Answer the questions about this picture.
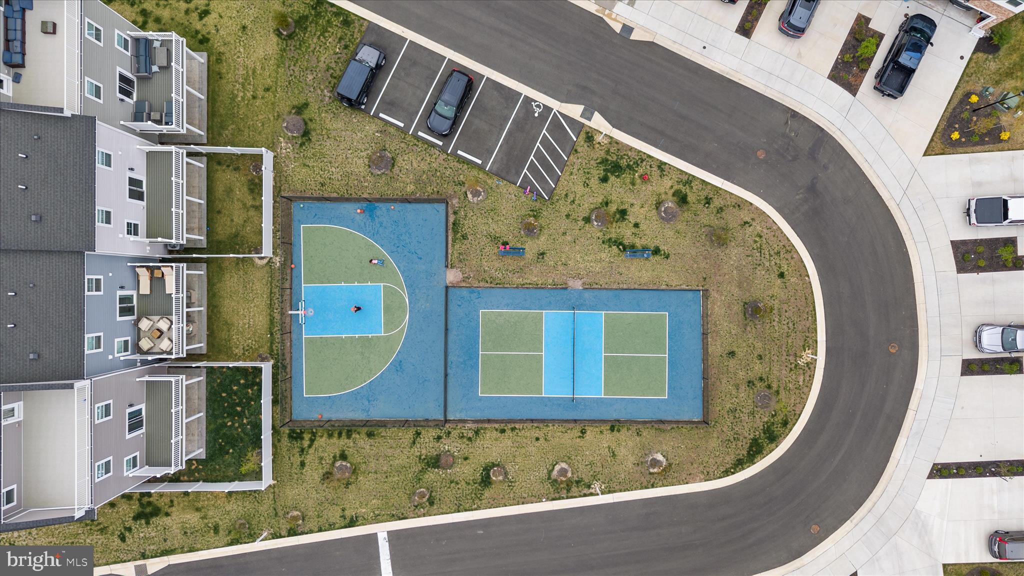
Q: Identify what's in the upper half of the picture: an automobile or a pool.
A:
automobile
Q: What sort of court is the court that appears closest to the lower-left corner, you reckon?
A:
basketball court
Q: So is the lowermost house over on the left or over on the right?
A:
left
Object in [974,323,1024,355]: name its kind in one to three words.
car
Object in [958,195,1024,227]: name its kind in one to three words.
truck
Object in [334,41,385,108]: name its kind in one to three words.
car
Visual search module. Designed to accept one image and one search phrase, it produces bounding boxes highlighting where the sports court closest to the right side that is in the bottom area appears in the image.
[445,287,702,420]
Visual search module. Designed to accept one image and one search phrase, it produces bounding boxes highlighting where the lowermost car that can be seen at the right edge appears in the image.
[985,527,1024,559]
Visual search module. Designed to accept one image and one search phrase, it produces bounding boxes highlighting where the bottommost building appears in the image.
[0,362,205,528]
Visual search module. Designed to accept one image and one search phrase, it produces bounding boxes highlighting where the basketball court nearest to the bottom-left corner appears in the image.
[293,202,445,419]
